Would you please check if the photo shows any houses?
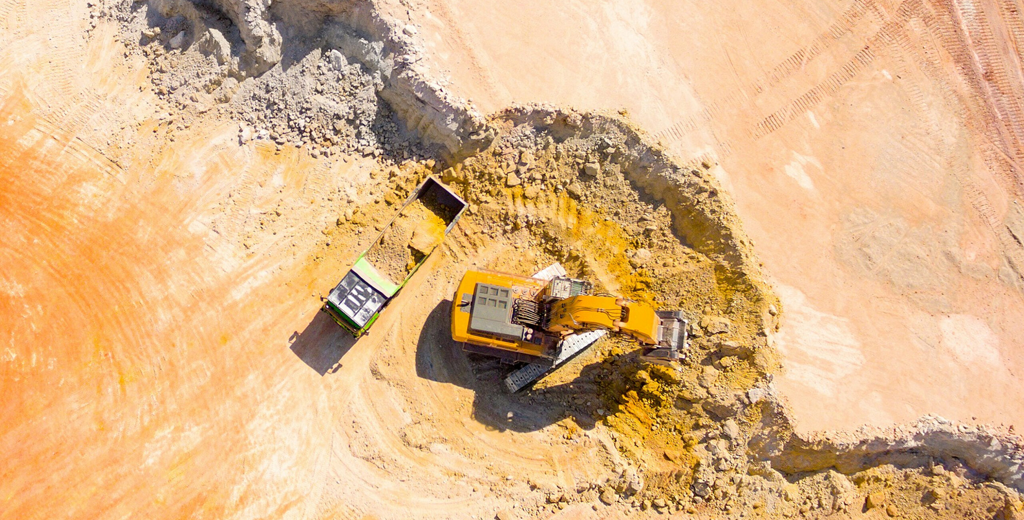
No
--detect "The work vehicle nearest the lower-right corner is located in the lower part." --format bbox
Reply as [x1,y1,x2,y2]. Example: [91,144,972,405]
[451,255,691,391]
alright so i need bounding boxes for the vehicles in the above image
[319,176,468,341]
[451,255,691,391]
